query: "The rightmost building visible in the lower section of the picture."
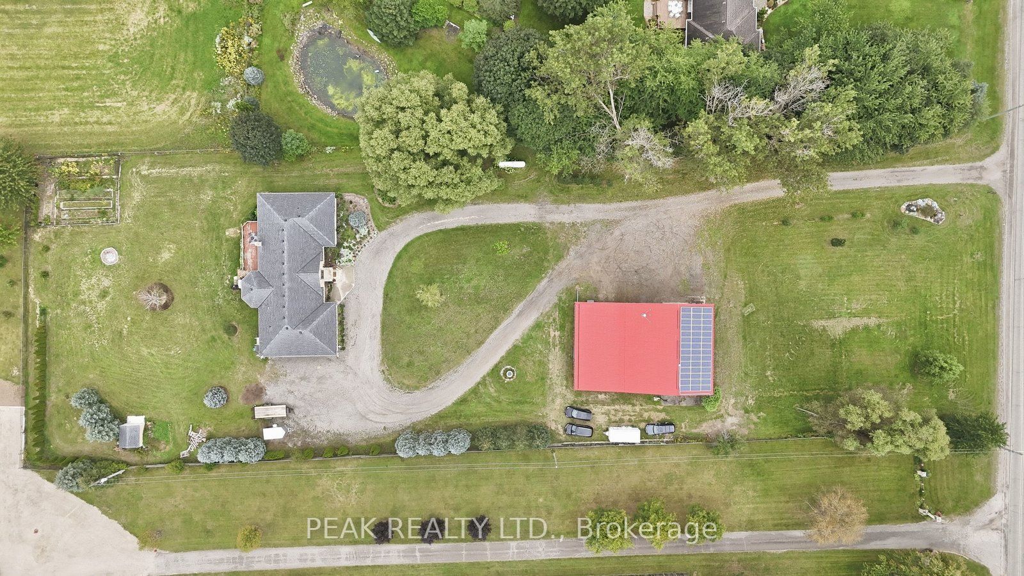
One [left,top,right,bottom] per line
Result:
[574,302,713,396]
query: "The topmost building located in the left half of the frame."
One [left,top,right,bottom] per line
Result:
[241,192,340,357]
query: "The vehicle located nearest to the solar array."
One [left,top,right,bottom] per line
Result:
[646,423,676,436]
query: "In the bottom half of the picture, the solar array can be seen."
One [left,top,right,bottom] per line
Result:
[677,305,713,396]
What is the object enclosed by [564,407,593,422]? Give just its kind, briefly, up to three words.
car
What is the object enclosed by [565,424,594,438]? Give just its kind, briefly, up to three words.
car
